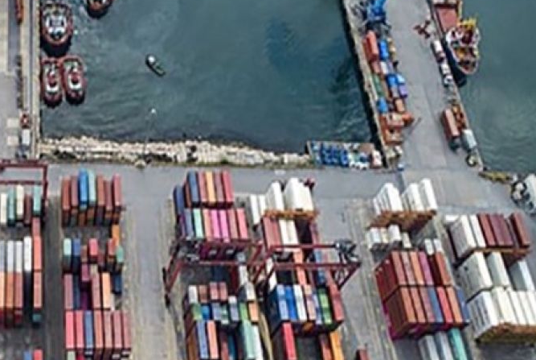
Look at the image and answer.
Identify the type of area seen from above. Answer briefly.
port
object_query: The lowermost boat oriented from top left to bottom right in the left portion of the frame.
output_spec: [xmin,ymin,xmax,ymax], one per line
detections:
[149,56,165,77]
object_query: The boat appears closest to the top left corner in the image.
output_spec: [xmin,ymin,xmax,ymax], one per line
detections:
[40,6,73,57]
